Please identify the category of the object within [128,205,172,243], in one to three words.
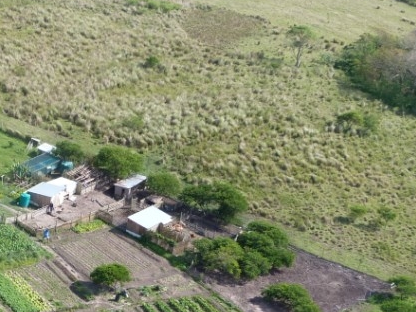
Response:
shed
